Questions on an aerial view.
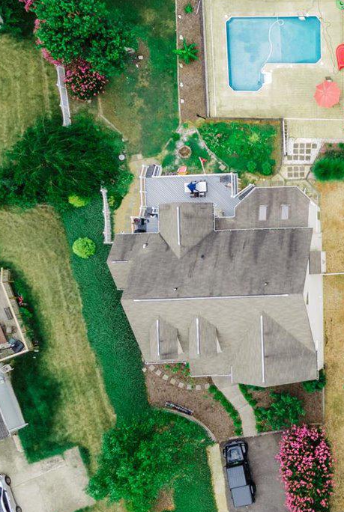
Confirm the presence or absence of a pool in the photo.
Yes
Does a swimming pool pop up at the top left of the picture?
No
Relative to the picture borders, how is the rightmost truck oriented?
vertically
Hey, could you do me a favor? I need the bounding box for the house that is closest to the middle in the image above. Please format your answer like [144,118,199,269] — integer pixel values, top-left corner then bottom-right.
[108,186,329,387]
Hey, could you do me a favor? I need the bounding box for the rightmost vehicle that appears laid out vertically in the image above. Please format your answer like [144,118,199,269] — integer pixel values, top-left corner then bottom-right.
[223,437,259,507]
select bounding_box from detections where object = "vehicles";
[0,470,23,512]
[223,437,259,507]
